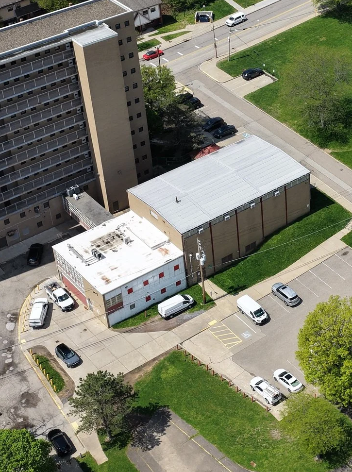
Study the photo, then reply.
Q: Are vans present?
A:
Yes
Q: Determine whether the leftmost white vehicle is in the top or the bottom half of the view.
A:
bottom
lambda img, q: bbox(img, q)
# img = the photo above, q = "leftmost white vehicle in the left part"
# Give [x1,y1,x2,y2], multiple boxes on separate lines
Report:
[30,296,50,327]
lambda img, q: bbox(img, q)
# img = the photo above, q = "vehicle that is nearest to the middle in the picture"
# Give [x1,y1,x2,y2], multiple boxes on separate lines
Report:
[154,291,197,317]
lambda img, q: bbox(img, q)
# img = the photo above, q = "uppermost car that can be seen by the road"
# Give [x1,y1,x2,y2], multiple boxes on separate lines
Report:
[226,11,247,25]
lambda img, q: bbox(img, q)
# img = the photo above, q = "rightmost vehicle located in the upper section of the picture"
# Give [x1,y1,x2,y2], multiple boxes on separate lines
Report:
[242,68,264,81]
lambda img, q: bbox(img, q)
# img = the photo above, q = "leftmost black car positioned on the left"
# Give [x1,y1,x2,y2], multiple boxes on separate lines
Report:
[27,243,44,267]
